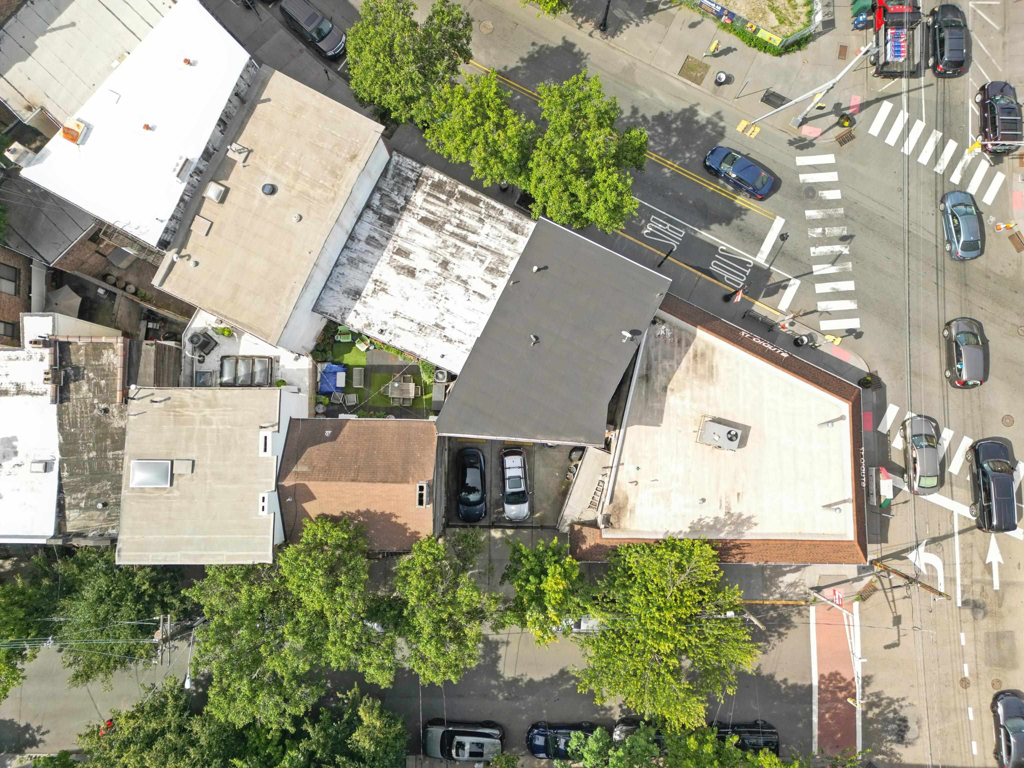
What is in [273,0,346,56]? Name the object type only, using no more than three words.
vehicle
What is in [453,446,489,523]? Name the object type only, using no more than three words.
car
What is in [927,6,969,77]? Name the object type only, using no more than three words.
car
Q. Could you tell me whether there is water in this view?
No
